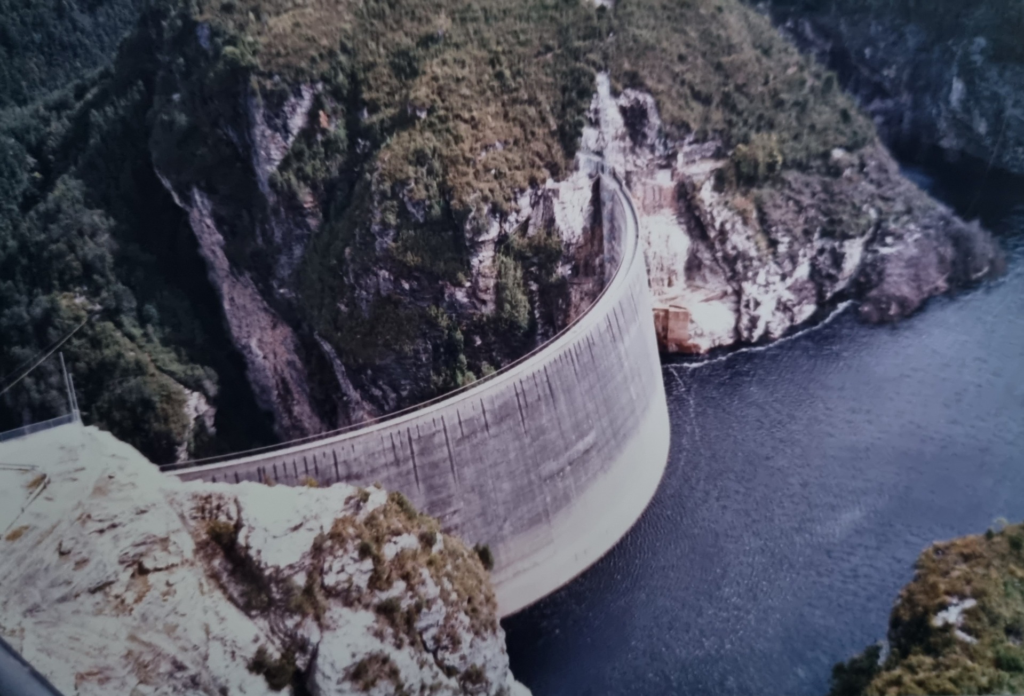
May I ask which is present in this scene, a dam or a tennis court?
dam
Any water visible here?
Yes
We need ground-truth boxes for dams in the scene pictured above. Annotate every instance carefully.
[152,165,672,627]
